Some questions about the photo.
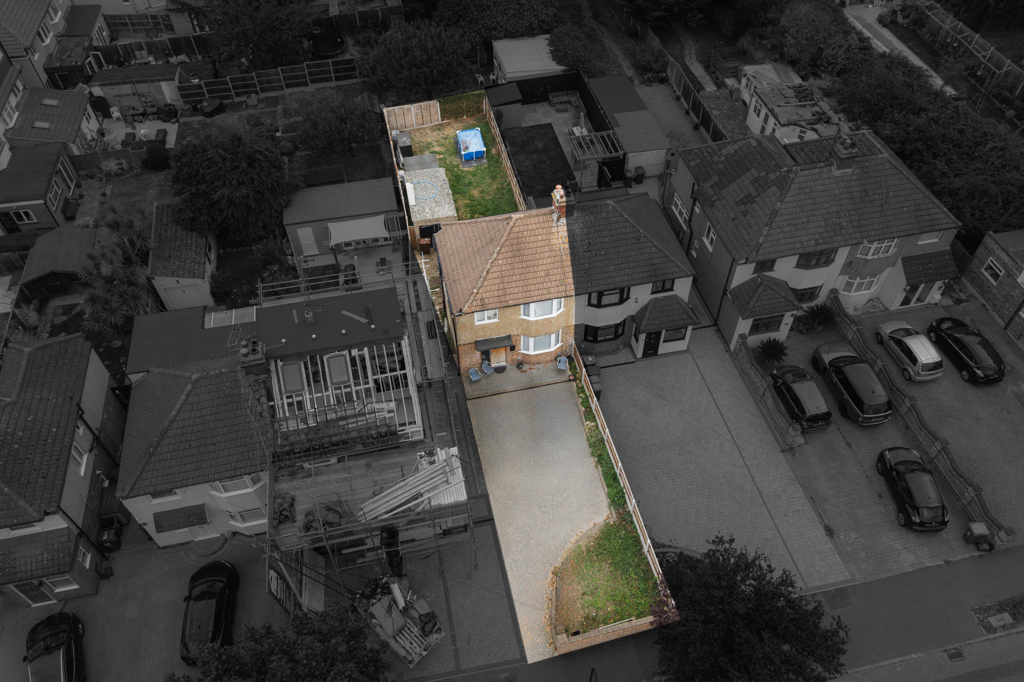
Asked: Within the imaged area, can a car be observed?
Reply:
Yes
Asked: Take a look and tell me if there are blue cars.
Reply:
No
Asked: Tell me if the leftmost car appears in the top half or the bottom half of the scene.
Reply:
bottom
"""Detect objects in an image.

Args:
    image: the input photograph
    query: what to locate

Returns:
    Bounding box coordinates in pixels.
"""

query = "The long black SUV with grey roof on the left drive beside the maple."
[175,560,238,680]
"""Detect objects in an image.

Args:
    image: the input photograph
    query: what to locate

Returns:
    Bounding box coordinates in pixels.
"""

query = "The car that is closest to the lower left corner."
[17,613,84,682]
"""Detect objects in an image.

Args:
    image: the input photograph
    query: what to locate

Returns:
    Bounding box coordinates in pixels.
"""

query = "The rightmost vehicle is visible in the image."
[929,317,1011,391]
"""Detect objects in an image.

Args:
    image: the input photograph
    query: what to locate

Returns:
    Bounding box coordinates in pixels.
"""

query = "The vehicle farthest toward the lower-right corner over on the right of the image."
[877,448,955,541]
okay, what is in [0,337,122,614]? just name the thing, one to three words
house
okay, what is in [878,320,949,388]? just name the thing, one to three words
car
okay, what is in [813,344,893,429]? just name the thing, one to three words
car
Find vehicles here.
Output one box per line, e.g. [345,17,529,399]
[877,448,955,541]
[813,344,893,429]
[175,560,238,680]
[878,320,949,388]
[17,613,84,682]
[772,354,836,428]
[929,317,1011,391]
